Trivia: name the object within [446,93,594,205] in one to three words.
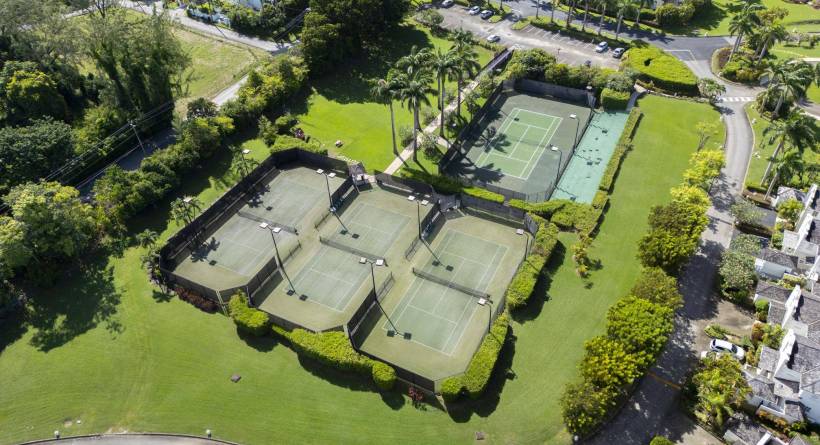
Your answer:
tennis court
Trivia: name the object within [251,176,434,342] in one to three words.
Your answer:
tennis court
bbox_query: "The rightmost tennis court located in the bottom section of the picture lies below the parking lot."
[346,201,533,395]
